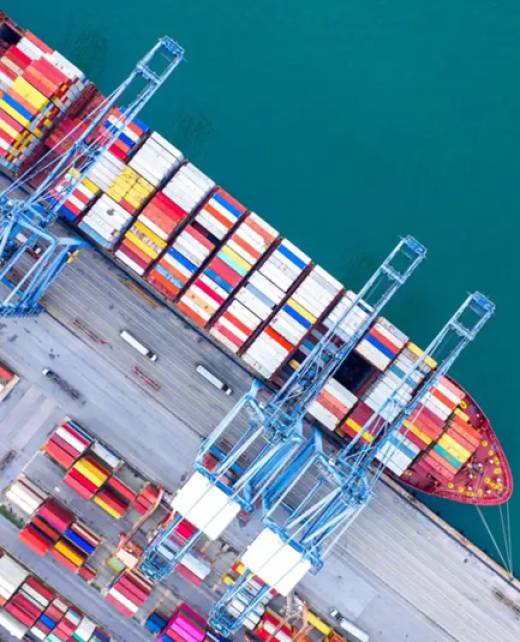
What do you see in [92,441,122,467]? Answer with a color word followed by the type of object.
white shipping container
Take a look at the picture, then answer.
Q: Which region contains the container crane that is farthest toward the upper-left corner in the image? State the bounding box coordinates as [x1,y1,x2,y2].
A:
[0,31,188,323]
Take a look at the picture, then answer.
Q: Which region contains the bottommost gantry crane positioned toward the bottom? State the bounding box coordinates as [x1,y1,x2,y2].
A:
[257,577,316,642]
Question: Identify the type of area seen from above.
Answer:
port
